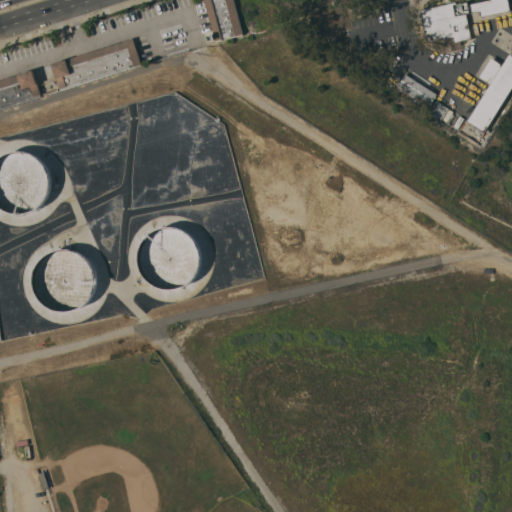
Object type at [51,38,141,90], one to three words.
building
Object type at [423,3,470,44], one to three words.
building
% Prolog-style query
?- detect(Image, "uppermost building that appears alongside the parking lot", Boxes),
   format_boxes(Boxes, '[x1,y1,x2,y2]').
[204,0,242,40]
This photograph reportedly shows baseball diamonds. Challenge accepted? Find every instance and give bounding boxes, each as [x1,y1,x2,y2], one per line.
[21,349,246,512]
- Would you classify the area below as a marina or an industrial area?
industrial area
